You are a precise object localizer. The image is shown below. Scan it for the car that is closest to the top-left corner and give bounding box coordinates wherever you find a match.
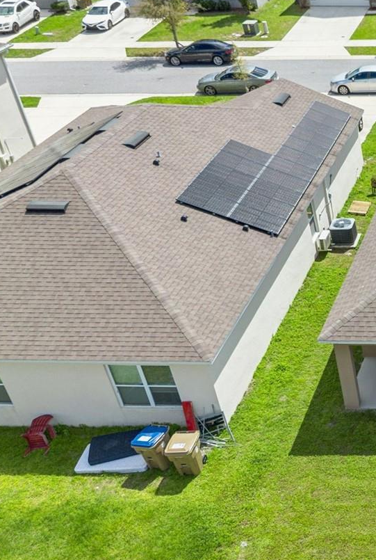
[0,0,38,29]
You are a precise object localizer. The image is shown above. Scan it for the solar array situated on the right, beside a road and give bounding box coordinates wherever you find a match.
[176,99,353,232]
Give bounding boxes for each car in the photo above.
[165,41,242,69]
[75,0,124,28]
[201,65,284,92]
[0,0,38,29]
[331,63,376,91]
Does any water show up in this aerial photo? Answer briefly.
No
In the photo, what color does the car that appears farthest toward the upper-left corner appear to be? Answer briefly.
white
